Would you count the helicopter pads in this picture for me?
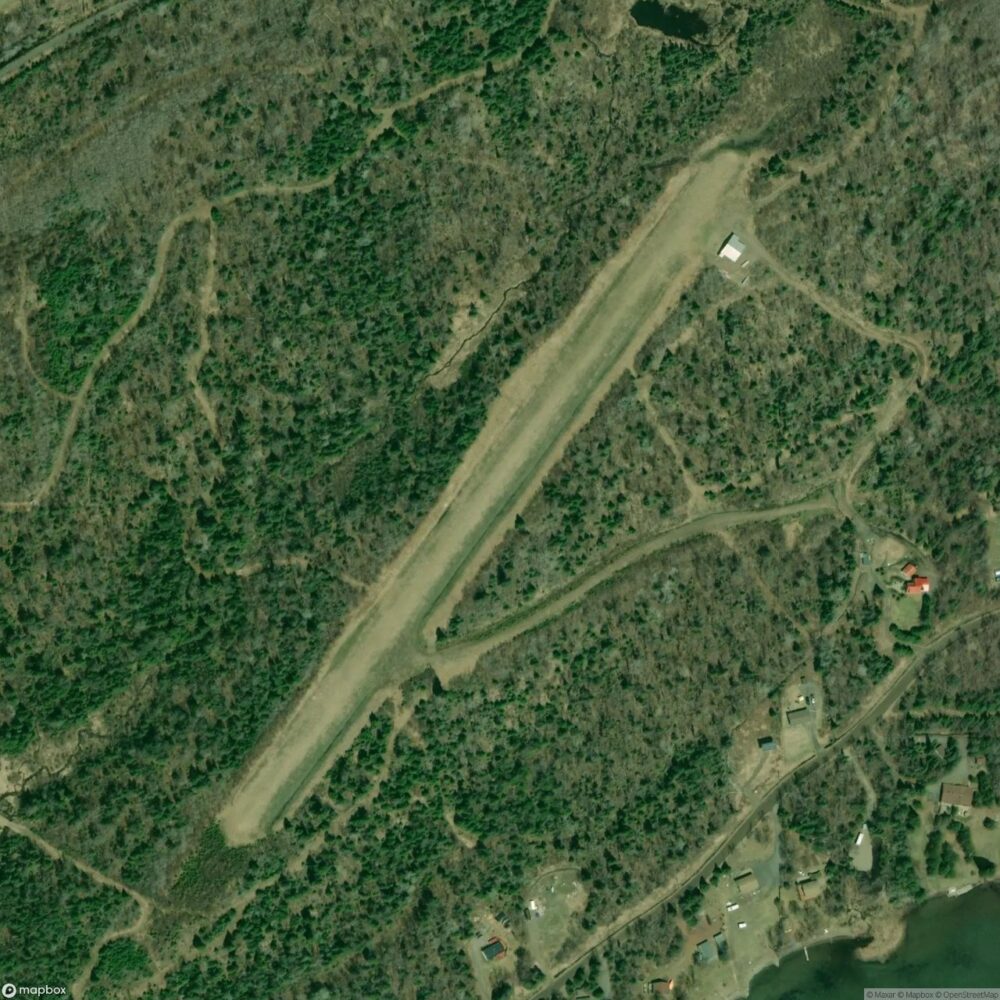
0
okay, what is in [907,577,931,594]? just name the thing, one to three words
house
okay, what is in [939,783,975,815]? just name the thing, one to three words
house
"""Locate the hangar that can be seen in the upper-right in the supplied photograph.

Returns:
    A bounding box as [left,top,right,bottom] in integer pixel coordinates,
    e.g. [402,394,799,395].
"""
[716,232,745,262]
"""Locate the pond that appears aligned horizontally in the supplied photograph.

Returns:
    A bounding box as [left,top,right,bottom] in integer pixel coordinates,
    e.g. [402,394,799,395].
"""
[630,0,710,39]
